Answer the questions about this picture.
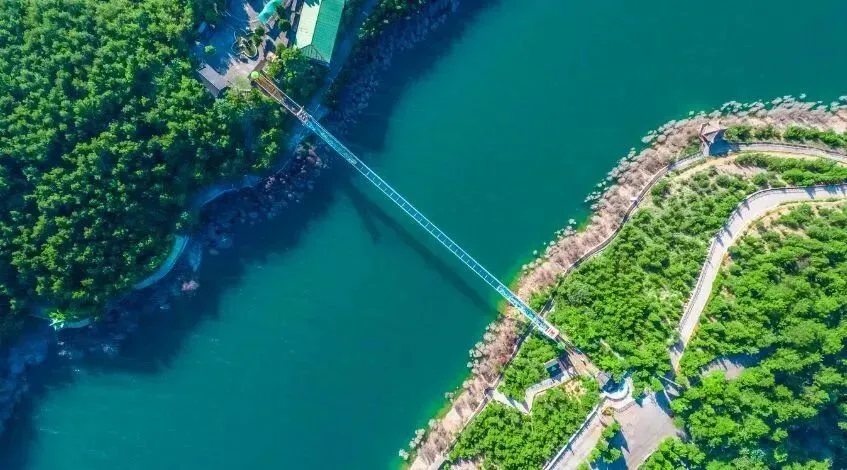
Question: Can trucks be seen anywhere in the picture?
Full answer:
No, there isn't any truck down there.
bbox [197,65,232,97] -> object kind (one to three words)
building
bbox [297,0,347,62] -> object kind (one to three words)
building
